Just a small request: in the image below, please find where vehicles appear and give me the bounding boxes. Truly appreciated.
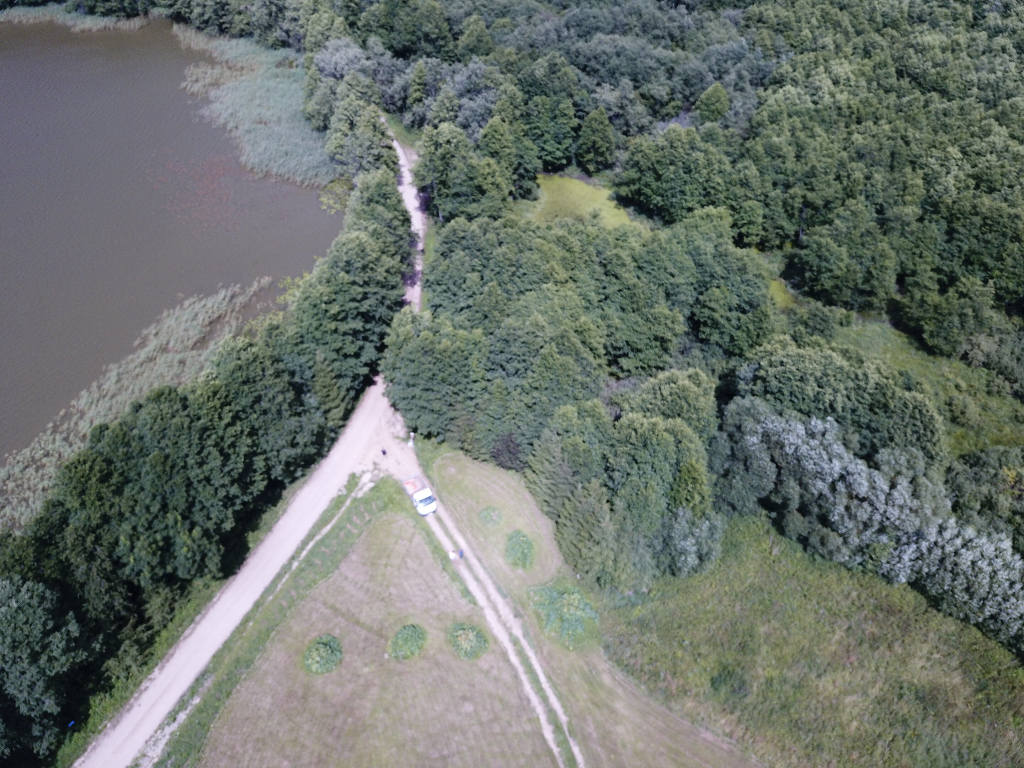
[403,472,434,517]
